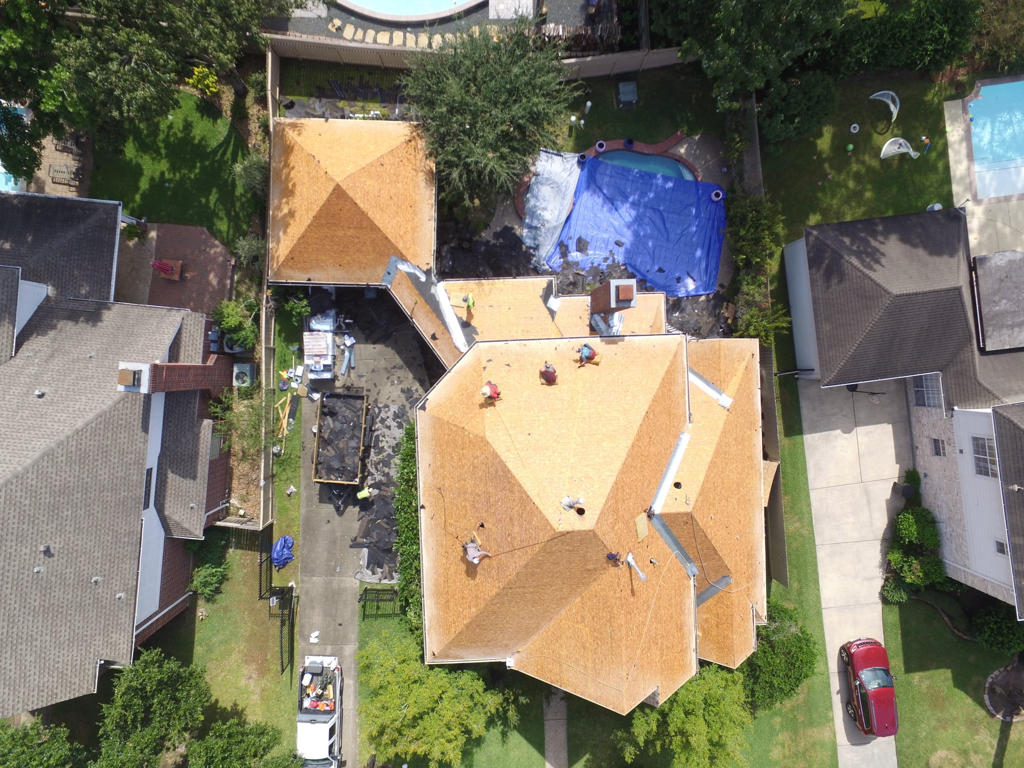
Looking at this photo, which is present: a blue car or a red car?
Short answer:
red car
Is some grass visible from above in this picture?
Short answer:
Yes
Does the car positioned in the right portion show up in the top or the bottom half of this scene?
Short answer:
bottom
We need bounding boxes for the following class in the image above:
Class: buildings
[0,186,236,718]
[414,275,781,714]
[784,210,1024,620]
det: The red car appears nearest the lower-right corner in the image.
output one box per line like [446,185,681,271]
[841,632,898,737]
